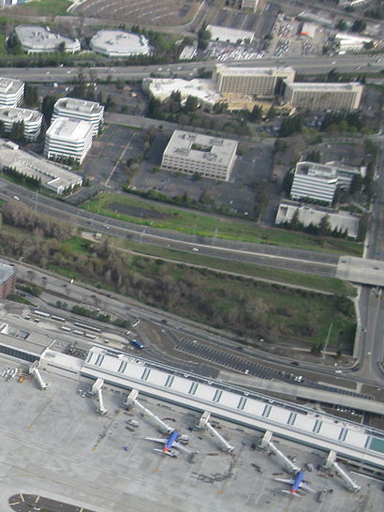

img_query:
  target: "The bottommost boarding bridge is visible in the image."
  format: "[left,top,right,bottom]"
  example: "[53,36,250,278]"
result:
[335,459,361,493]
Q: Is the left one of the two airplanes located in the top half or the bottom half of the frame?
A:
bottom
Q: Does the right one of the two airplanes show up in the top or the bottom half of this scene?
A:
bottom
